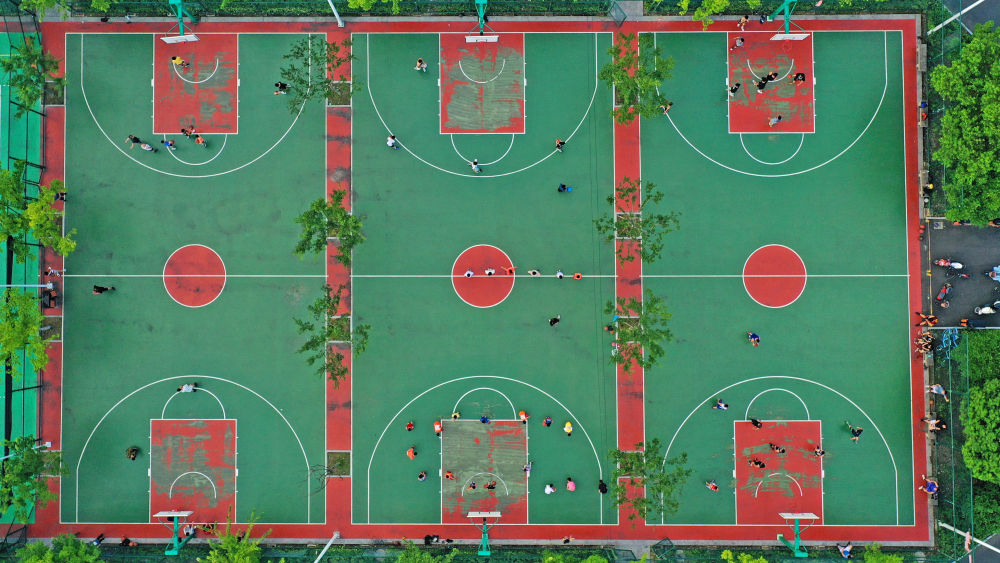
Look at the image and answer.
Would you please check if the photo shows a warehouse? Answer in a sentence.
No, no warehouse can be seen from above.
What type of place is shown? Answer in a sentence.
This image shows a sports ground.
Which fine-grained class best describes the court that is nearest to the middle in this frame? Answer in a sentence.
Specifically, the court that is nearest to the middle is a basketball court.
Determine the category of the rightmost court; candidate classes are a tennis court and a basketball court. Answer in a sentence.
Looking closely, the rightmost court is a basketball court.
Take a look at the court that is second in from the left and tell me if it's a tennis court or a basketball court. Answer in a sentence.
Looking closely, the court that is second in from the left is a basketball court.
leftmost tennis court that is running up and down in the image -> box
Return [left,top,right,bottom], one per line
[0,32,49,521]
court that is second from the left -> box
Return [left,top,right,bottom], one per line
[60,33,326,524]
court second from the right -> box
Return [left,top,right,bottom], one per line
[351,31,617,524]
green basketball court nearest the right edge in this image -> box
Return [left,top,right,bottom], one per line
[640,30,913,525]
